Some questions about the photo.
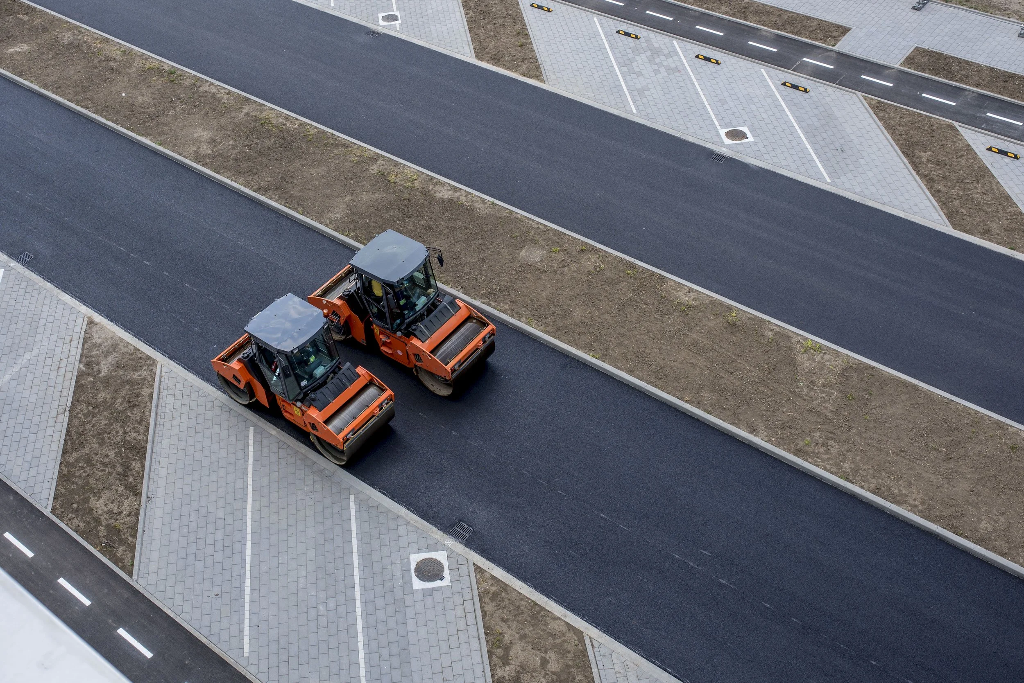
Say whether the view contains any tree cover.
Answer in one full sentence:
No, tree cover can't be seen anywhere here.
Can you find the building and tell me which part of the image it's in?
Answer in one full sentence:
The building sits in the bottom left section of the image.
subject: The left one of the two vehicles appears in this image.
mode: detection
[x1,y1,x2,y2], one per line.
[211,293,395,466]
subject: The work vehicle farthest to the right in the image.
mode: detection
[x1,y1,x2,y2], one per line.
[309,231,497,397]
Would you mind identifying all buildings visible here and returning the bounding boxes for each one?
[0,572,128,683]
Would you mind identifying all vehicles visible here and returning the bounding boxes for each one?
[309,231,497,397]
[211,293,395,466]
